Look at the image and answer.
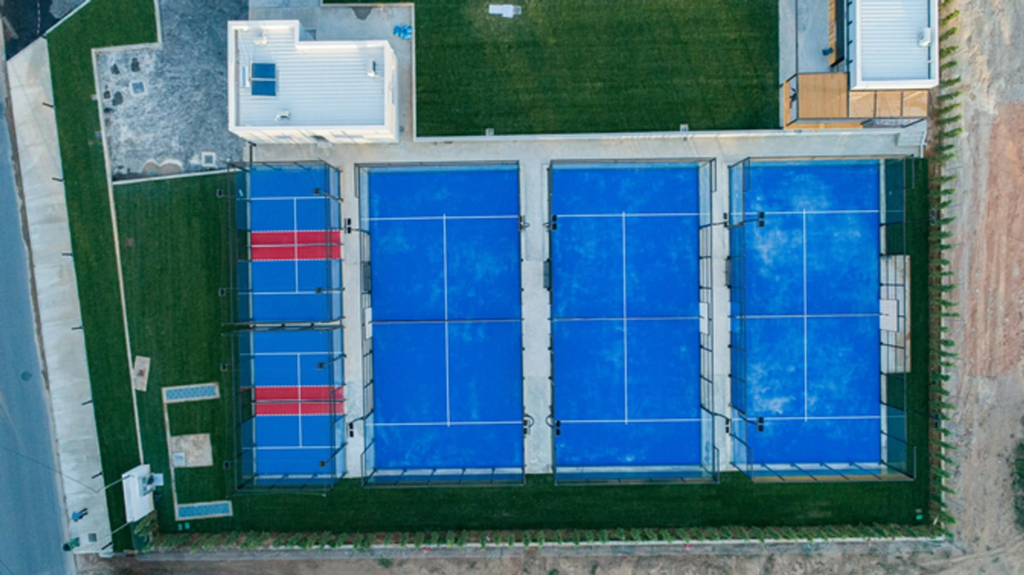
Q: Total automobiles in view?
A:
0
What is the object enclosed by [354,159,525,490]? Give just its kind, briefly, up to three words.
sports court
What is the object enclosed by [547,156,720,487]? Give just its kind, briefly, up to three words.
sports court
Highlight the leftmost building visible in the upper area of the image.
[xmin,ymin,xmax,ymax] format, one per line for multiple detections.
[224,20,398,149]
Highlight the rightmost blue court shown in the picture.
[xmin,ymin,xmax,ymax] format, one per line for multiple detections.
[728,153,917,485]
